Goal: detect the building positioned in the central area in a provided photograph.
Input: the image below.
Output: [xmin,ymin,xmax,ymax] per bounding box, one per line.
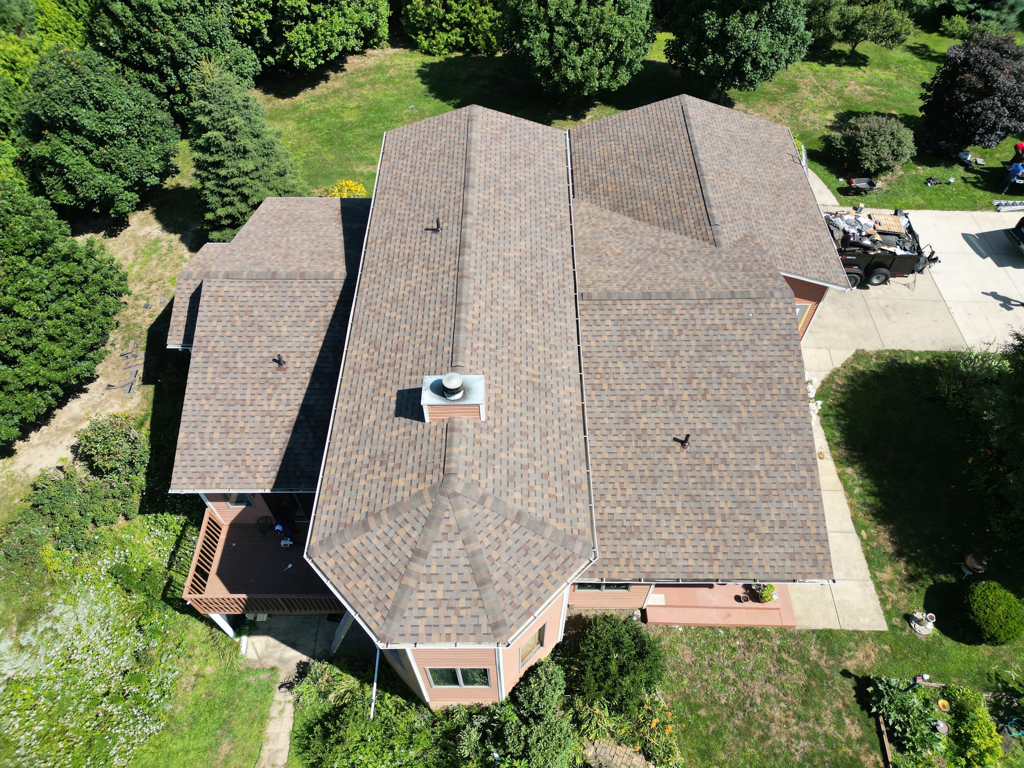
[166,95,853,714]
